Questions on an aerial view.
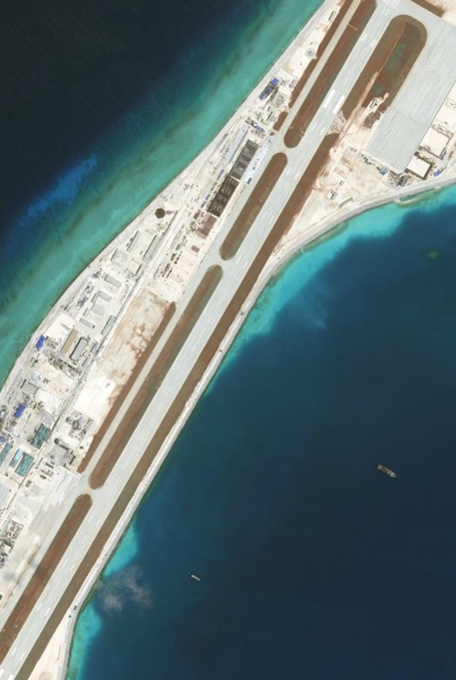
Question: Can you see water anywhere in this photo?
Yes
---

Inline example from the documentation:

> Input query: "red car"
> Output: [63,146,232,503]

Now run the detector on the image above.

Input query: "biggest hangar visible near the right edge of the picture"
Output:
[418,127,451,159]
